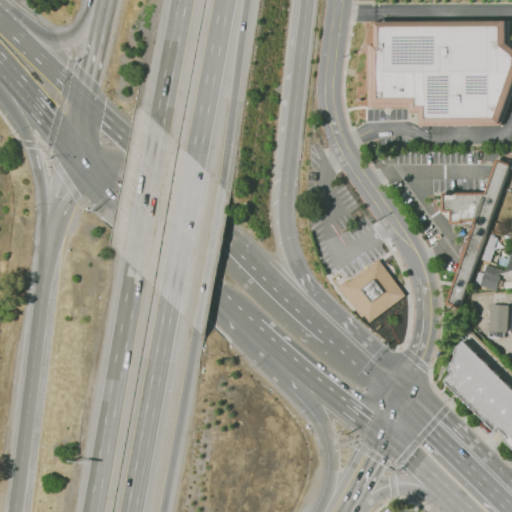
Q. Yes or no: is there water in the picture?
No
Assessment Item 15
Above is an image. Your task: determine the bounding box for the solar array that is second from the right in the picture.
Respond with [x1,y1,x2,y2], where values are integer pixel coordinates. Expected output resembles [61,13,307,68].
[428,76,448,114]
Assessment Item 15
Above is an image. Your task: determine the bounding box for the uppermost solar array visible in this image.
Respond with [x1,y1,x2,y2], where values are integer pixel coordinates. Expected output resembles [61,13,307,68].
[392,36,434,64]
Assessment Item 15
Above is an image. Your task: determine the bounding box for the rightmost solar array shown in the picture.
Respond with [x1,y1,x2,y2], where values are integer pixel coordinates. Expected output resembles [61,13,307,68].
[466,76,487,94]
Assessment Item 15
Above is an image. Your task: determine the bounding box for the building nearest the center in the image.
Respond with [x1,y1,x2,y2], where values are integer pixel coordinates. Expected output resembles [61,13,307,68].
[340,260,406,322]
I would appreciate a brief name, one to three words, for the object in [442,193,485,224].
building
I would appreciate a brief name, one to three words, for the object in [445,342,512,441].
building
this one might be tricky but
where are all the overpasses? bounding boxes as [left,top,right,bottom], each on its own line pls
[109,105,232,334]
